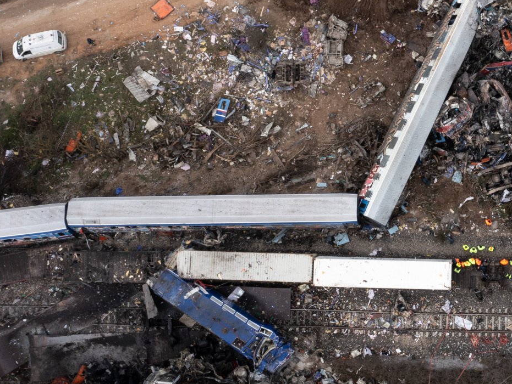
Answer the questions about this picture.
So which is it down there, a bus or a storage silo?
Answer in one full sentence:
Visible in the photo is a bus.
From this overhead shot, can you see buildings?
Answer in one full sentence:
No, there's no building here.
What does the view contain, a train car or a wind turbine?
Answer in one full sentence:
I can see a train car in this picture.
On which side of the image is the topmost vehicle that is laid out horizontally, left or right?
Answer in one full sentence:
The topmost vehicle that is laid out horizontally appears in the left half of the scene.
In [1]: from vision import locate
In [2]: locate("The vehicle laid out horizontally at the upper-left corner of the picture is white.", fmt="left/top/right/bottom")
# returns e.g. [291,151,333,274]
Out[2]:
[16,32,72,58]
